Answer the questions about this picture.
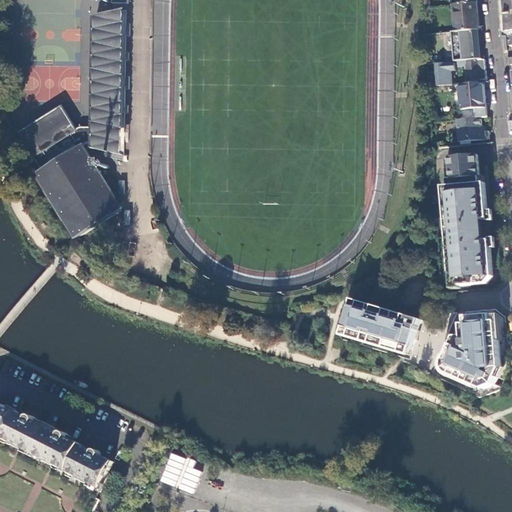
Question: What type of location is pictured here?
sports ground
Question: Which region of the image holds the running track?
top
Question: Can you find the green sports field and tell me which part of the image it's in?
top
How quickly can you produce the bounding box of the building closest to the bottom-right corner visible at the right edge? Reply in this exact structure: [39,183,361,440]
[436,310,510,399]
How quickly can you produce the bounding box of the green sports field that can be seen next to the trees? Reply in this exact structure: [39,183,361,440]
[175,0,366,272]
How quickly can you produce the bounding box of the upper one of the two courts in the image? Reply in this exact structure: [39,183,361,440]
[14,0,81,66]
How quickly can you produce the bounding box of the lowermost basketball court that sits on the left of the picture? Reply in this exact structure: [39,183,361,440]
[16,66,80,102]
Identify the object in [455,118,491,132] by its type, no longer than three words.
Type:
house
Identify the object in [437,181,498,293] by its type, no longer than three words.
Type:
building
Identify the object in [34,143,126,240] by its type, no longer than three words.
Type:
building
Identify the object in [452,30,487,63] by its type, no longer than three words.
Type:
house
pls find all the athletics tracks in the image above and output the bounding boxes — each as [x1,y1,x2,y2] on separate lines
[170,0,378,277]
